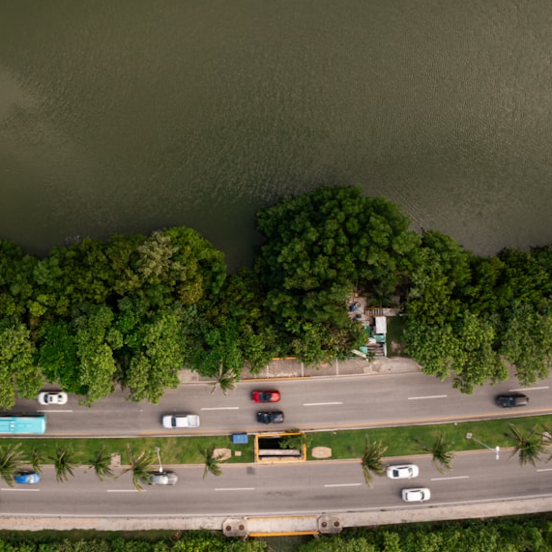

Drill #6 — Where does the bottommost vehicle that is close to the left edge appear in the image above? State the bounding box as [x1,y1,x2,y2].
[14,469,41,485]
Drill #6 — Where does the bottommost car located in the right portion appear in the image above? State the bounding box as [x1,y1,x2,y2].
[400,487,430,502]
